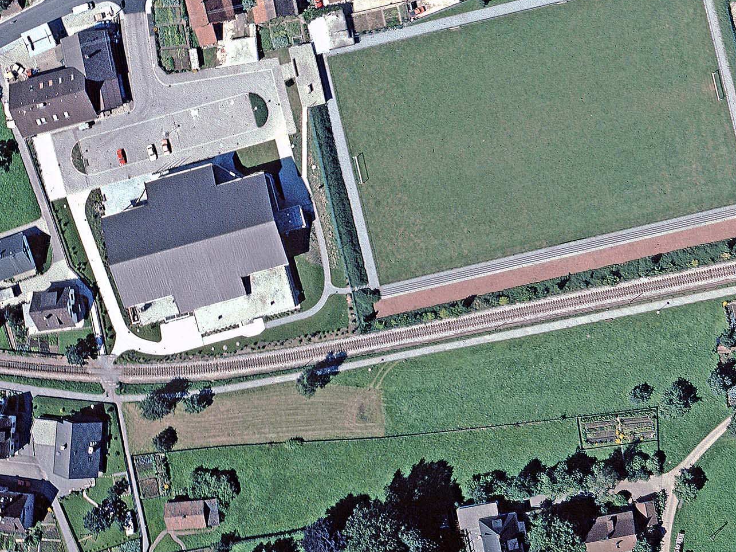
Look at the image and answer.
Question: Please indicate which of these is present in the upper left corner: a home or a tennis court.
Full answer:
You can see a home in the upper left corner.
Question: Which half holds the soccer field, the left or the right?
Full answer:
The soccer field is on the right side of the image.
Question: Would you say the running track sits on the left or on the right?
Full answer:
The running track appears in the right half of the scene.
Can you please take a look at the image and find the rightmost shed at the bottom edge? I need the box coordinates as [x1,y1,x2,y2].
[635,500,658,530]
